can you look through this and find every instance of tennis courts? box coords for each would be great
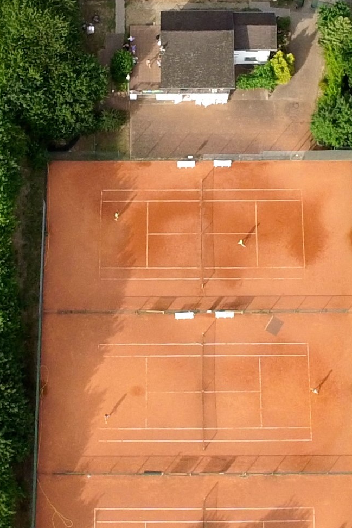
[41,160,352,311]
[35,309,352,475]
[34,473,352,528]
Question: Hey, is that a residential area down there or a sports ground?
sports ground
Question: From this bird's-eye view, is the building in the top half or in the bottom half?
top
